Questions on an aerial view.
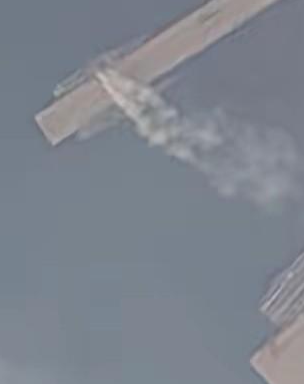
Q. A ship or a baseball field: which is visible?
ship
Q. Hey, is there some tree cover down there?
No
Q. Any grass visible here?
No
